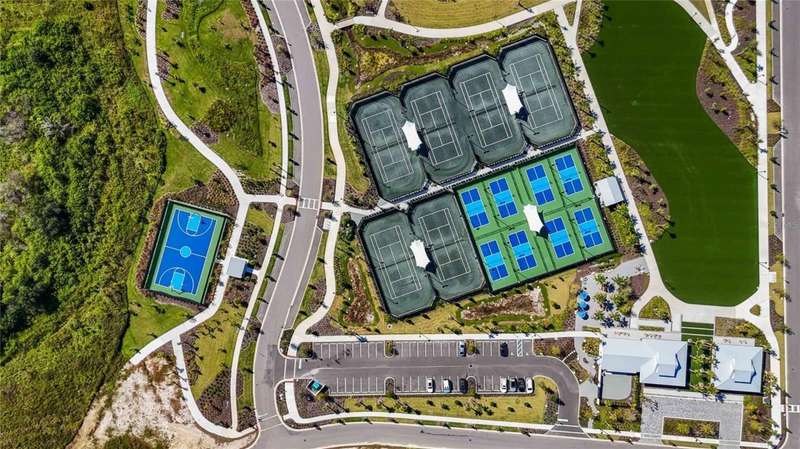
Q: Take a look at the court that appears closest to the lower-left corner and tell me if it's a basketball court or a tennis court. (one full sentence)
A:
In the photo, the court that appears closest to the lower-left corner shows up as a basketball court.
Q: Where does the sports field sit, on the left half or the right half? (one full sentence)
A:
The sports field is on the right side of the image.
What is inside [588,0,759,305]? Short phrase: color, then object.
green sports field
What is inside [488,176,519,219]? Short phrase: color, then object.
blue sports court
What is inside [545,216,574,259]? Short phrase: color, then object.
blue sports court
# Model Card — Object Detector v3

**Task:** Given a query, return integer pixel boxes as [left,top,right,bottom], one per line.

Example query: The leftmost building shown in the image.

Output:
[227,256,248,278]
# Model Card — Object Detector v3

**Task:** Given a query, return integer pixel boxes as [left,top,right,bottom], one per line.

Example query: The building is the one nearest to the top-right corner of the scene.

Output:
[591,176,624,205]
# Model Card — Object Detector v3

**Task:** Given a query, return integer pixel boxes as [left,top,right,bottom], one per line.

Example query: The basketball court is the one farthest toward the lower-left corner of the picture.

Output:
[146,201,227,303]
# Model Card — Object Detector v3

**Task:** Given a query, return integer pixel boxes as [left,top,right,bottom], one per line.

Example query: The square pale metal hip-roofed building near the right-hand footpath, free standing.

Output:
[714,345,764,390]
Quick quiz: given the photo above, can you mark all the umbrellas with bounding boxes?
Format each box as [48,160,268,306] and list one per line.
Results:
[577,290,588,300]
[577,300,588,309]
[577,309,588,319]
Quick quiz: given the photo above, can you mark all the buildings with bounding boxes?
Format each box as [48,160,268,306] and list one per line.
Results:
[591,176,624,205]
[602,335,688,387]
[714,345,764,390]
[227,256,248,278]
